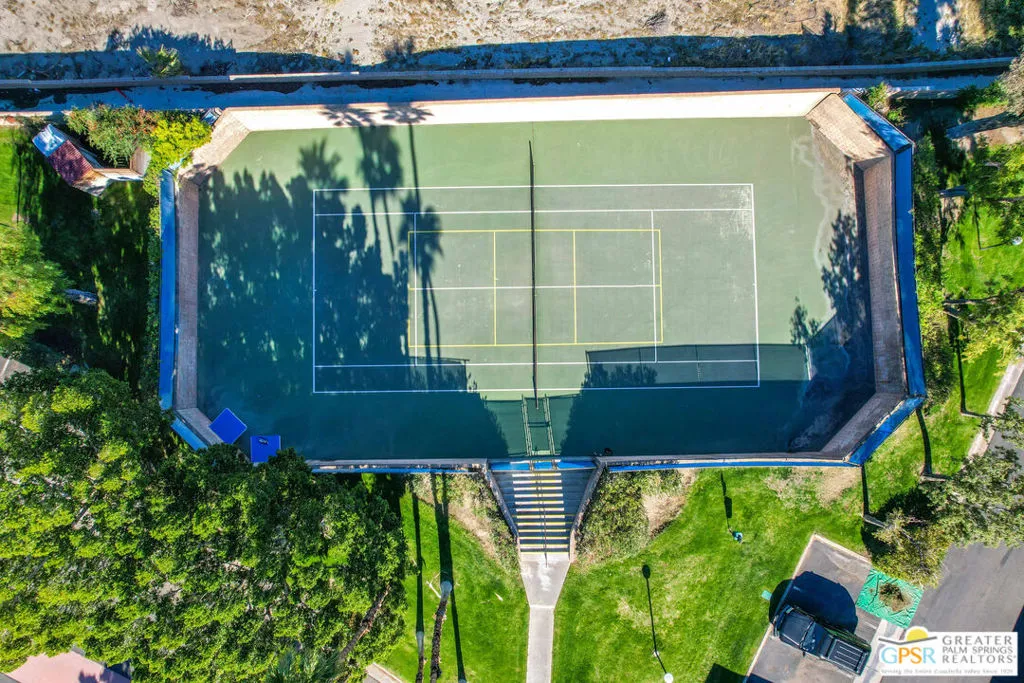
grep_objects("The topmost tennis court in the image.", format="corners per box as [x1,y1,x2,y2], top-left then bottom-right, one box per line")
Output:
[197,117,875,462]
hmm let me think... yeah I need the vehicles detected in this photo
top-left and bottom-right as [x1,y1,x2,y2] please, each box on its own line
[764,601,875,683]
